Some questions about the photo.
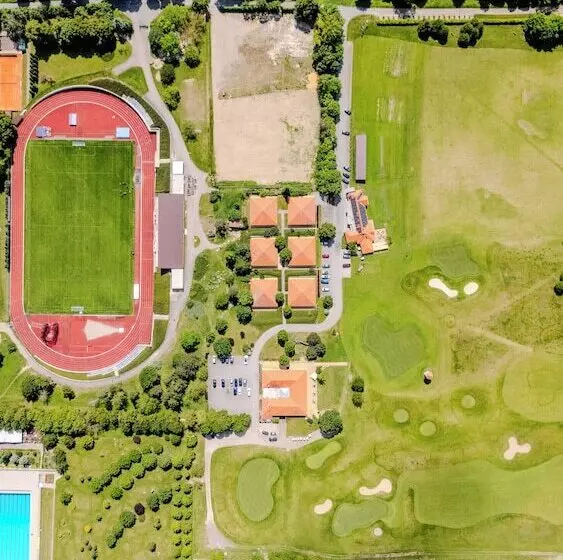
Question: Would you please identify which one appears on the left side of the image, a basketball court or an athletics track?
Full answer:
Visible on the left side of the image is an athletics track.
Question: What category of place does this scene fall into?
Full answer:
What you see here is a golf course.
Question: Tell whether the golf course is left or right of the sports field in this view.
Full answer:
The sports field has the golf course on its right side.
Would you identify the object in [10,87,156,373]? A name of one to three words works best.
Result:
running track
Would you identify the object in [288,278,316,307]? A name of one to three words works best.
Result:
house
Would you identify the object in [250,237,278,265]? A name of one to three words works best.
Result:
house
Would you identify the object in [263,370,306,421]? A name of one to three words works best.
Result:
building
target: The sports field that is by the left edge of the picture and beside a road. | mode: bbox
[26,140,134,314]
